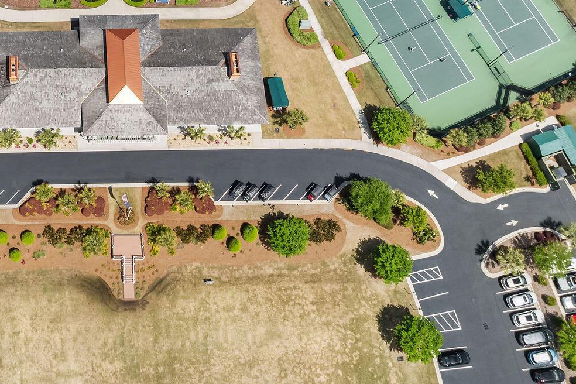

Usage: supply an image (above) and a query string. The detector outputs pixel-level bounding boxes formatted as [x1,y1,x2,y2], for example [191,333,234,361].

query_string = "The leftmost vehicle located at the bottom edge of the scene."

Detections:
[438,350,472,368]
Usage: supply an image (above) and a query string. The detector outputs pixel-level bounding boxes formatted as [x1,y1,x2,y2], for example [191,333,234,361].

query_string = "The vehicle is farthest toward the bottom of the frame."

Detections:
[533,366,567,383]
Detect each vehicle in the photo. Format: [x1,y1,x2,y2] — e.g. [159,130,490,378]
[549,258,576,275]
[506,292,539,309]
[438,350,472,368]
[512,309,546,327]
[306,183,324,203]
[527,348,561,366]
[533,366,567,383]
[241,183,260,201]
[229,180,247,199]
[562,294,576,309]
[259,183,277,201]
[520,328,554,345]
[555,274,576,290]
[500,273,533,289]
[321,183,341,203]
